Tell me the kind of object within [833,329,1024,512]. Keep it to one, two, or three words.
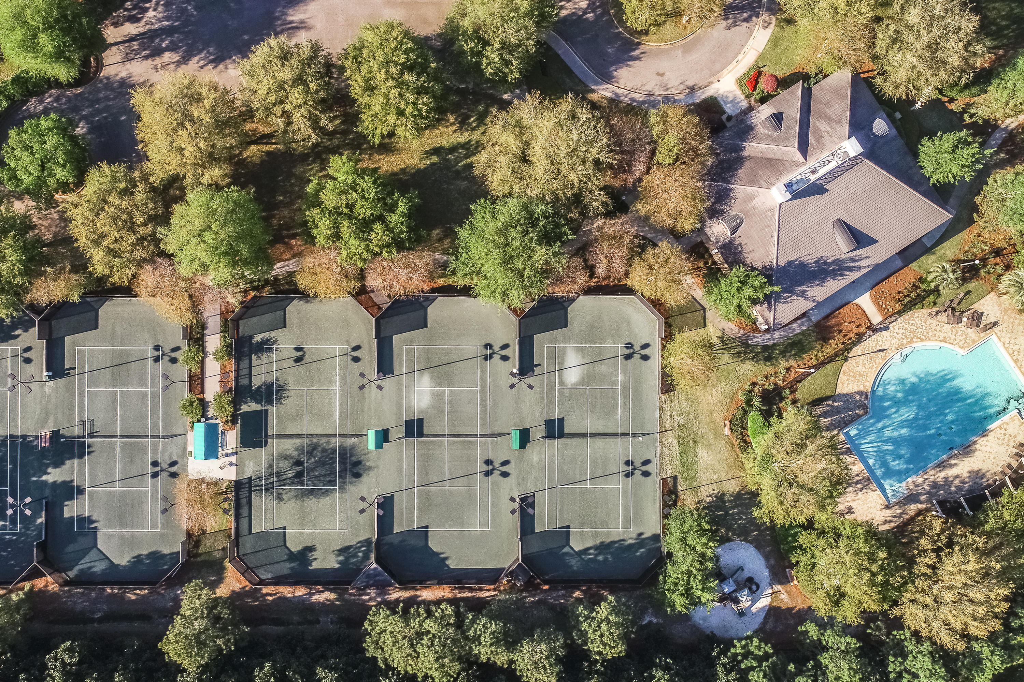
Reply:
swimming pool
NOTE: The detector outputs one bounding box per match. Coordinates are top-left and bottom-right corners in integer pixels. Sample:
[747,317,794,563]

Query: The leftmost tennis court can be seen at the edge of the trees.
[0,300,45,582]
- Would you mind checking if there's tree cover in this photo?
Yes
